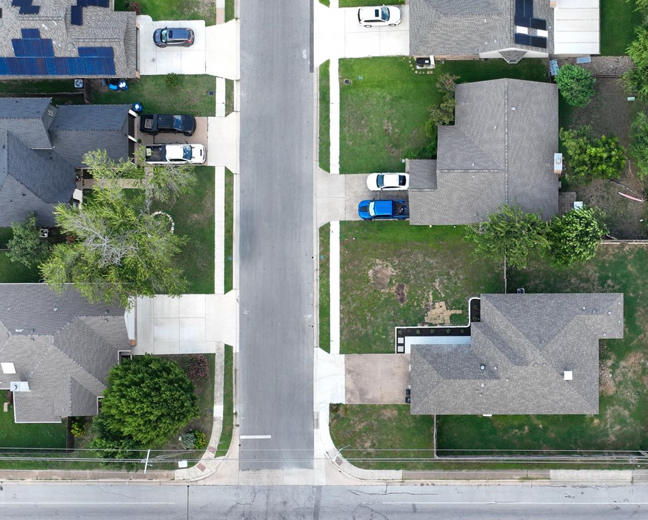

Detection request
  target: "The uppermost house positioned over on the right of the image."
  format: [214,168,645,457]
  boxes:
[410,0,557,64]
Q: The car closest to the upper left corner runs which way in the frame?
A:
from side to side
